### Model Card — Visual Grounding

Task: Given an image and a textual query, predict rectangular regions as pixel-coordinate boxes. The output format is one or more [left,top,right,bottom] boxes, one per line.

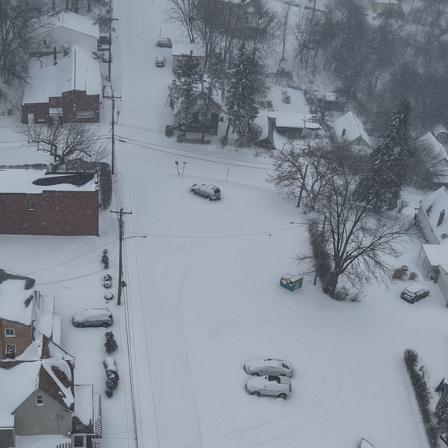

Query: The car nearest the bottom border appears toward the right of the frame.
[246,378,294,402]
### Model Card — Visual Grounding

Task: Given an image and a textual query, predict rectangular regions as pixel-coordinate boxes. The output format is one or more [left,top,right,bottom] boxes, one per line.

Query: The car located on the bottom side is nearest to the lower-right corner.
[403,280,430,304]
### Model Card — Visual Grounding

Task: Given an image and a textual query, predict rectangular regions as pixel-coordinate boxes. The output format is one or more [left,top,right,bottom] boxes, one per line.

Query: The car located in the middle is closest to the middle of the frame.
[191,183,223,200]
